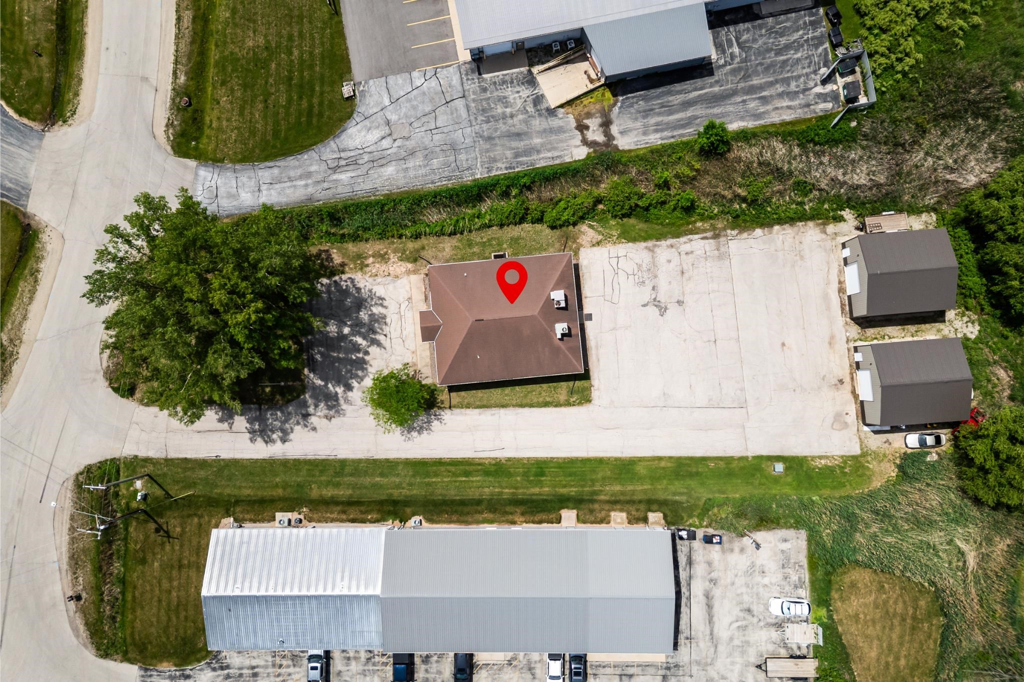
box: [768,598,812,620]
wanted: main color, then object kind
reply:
white car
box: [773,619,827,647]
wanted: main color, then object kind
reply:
white trailer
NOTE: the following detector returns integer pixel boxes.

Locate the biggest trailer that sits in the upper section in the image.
[855,210,909,234]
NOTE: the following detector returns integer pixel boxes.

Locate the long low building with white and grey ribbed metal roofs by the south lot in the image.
[201,525,676,654]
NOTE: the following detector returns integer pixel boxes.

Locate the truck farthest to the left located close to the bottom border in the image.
[305,652,327,682]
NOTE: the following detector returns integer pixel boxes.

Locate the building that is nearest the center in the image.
[420,251,584,387]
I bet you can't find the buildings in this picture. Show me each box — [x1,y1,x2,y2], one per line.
[854,337,973,425]
[454,0,766,84]
[420,251,584,387]
[843,228,959,318]
[201,525,676,654]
